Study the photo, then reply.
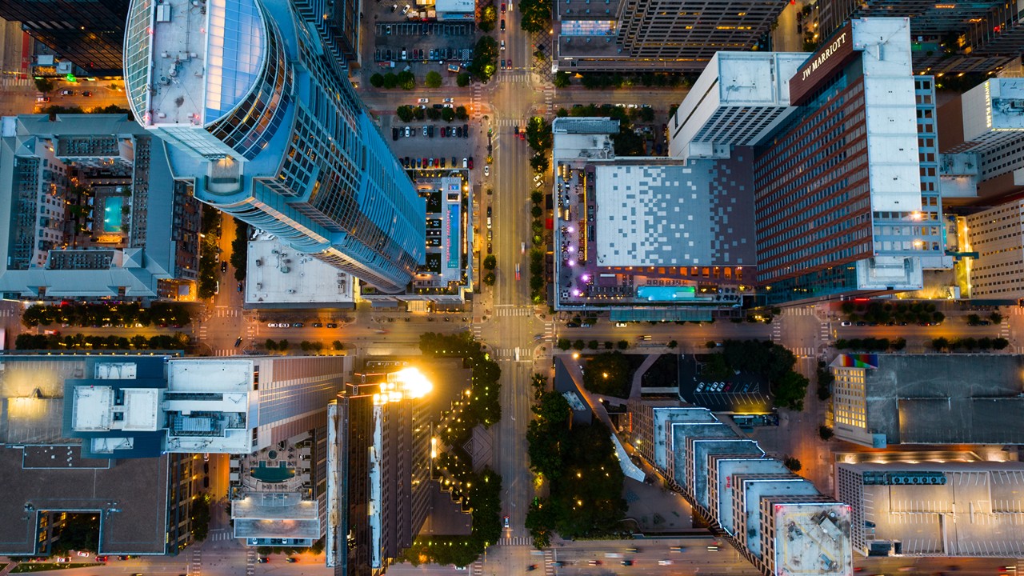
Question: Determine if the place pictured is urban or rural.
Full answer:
It looks urban.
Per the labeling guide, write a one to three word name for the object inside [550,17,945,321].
building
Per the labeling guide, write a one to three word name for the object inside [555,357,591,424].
building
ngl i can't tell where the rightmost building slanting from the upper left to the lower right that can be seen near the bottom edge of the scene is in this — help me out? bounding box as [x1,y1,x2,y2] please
[628,398,855,576]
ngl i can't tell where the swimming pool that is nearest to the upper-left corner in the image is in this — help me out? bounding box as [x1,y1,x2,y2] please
[104,197,122,232]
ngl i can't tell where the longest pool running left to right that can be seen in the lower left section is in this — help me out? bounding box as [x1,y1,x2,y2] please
[250,467,296,482]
